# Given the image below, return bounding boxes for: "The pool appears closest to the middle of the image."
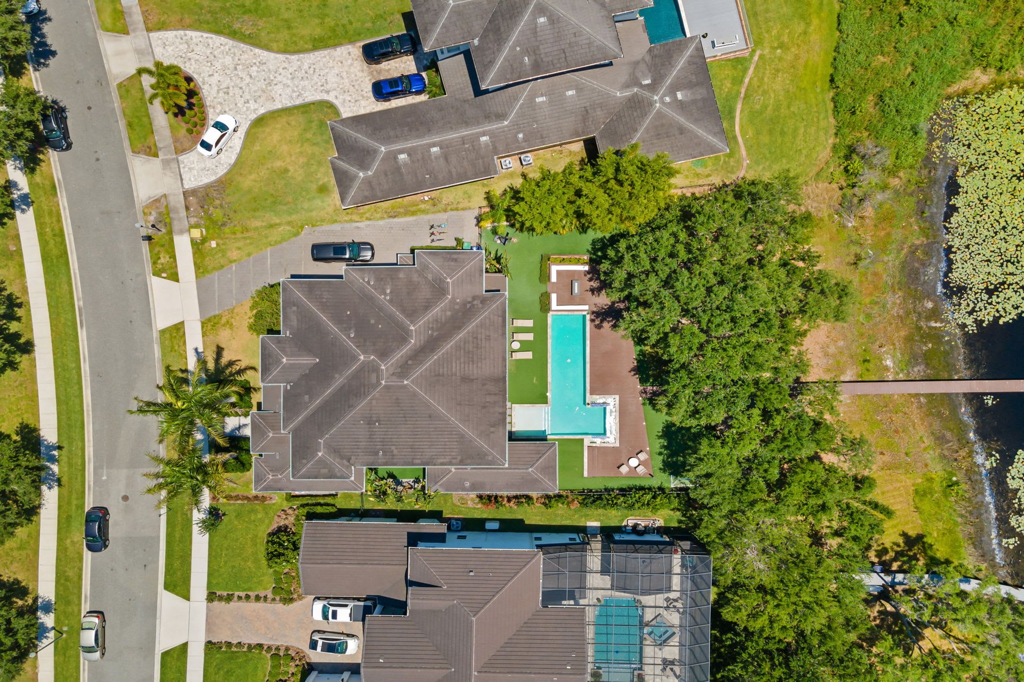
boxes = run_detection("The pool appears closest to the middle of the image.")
[512,312,619,477]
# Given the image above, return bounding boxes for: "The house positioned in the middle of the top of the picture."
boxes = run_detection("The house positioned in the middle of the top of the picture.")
[327,0,730,211]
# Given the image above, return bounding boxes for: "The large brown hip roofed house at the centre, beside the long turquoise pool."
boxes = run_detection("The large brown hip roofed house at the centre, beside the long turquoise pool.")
[250,249,559,494]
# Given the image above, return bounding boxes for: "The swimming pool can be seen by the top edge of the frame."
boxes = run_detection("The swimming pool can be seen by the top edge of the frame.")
[643,0,695,44]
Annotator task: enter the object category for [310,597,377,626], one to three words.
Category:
truck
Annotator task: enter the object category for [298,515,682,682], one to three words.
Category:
house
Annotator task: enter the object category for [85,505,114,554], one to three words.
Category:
car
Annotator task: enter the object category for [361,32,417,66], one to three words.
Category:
car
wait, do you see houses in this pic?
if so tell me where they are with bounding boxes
[298,515,682,682]
[327,0,730,211]
[250,249,559,494]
